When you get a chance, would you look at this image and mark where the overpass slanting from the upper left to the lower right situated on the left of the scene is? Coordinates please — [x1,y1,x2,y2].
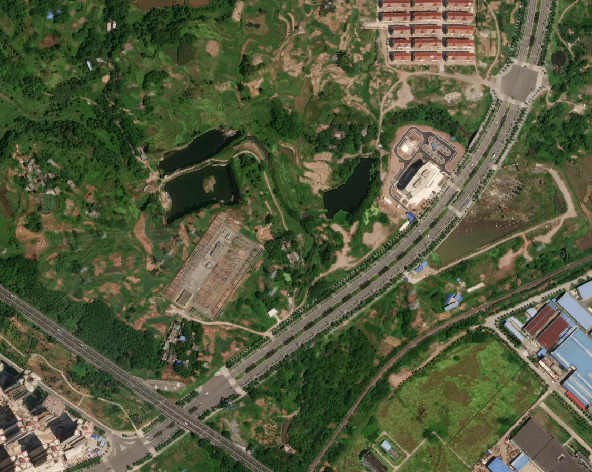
[151,393,213,440]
